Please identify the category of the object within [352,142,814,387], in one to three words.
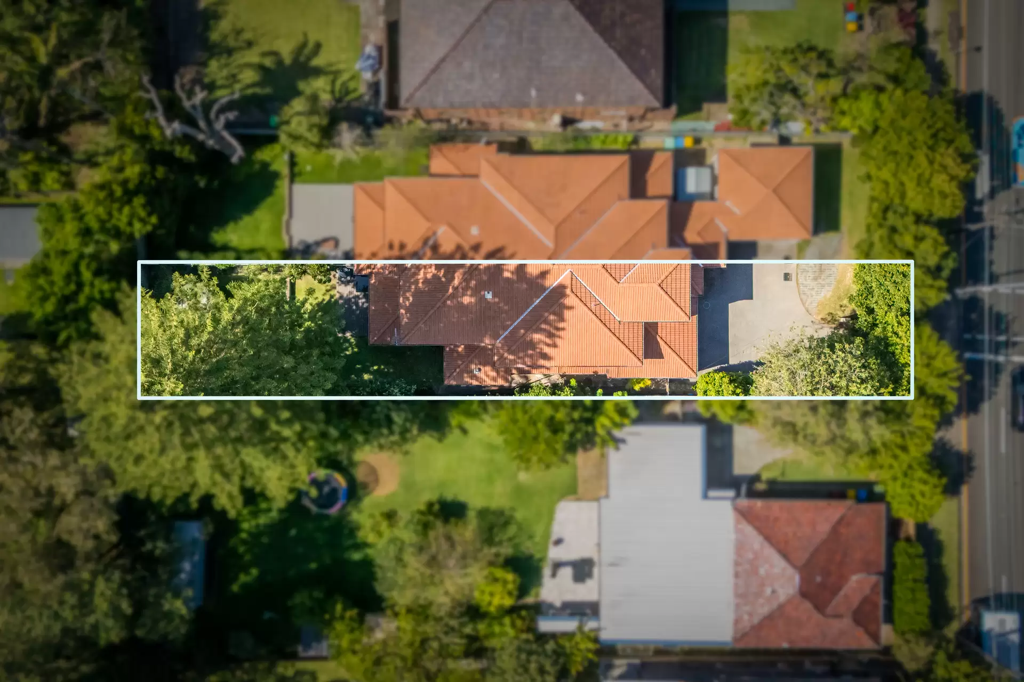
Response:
house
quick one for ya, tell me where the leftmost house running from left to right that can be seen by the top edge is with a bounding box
[397,0,667,122]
